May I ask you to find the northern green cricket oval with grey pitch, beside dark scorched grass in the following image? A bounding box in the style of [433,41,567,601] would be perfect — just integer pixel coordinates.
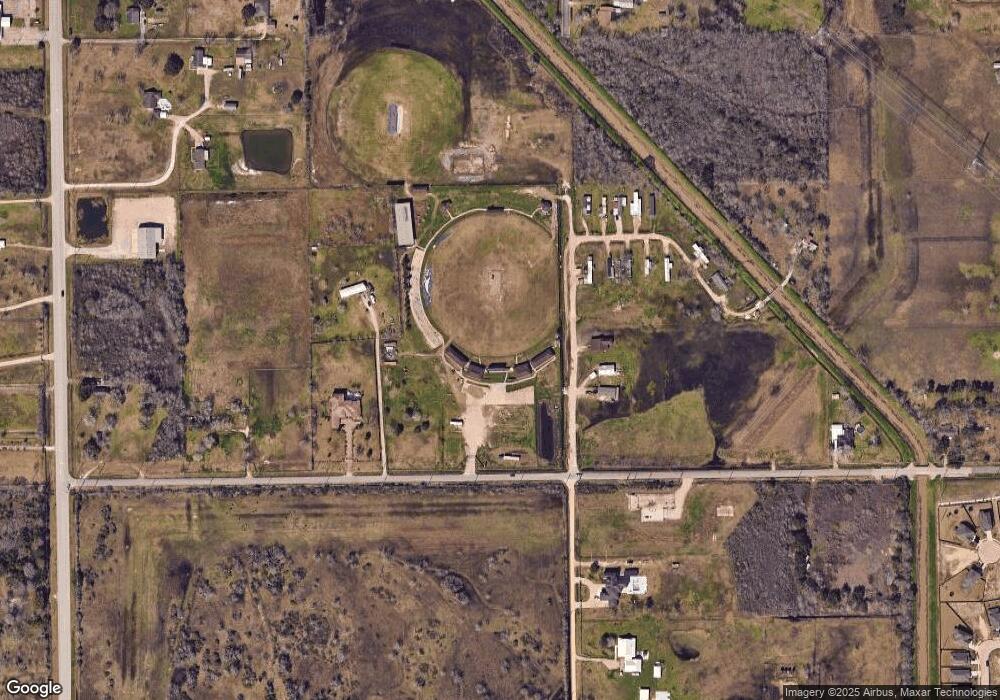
[329,48,462,186]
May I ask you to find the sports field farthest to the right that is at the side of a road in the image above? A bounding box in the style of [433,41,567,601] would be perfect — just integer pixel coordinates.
[432,213,557,355]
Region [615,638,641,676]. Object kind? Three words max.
house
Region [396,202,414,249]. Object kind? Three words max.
building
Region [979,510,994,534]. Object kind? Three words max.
house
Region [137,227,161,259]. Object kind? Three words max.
building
